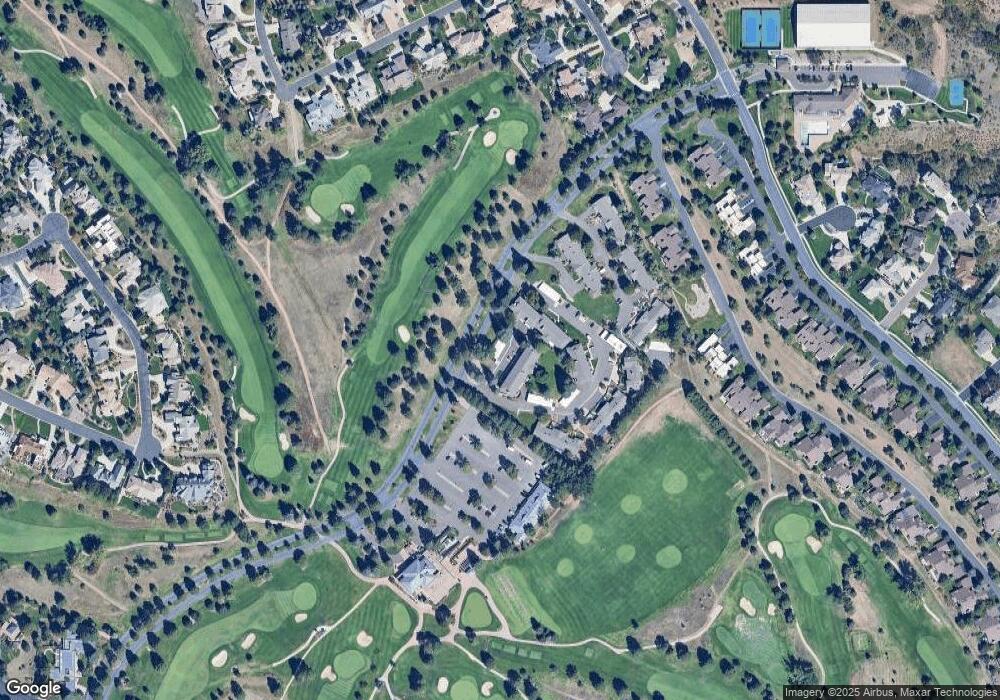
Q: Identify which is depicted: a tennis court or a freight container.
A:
tennis court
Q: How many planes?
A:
0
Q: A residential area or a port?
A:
residential area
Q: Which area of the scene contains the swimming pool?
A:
top right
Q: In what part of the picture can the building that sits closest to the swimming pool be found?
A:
top right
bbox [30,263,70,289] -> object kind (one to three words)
house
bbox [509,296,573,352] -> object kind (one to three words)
building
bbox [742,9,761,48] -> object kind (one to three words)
tennis court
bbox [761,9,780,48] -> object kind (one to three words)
tennis court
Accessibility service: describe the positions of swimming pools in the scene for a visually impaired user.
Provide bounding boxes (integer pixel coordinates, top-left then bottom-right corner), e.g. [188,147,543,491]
[800,120,828,147]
